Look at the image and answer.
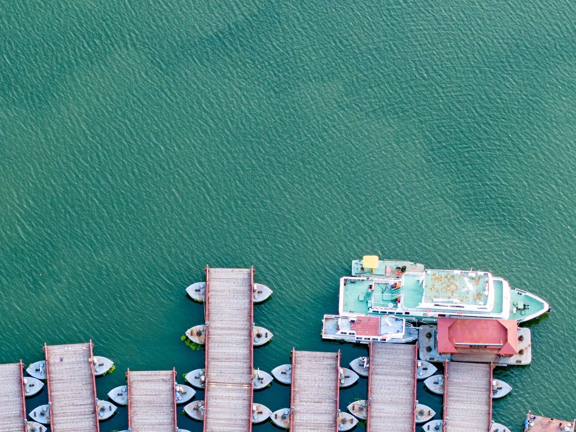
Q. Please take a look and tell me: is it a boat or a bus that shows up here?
boat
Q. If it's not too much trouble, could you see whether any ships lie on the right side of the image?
Yes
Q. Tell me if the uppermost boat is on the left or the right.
right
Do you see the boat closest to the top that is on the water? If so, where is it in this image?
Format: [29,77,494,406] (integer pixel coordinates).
[351,256,424,279]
